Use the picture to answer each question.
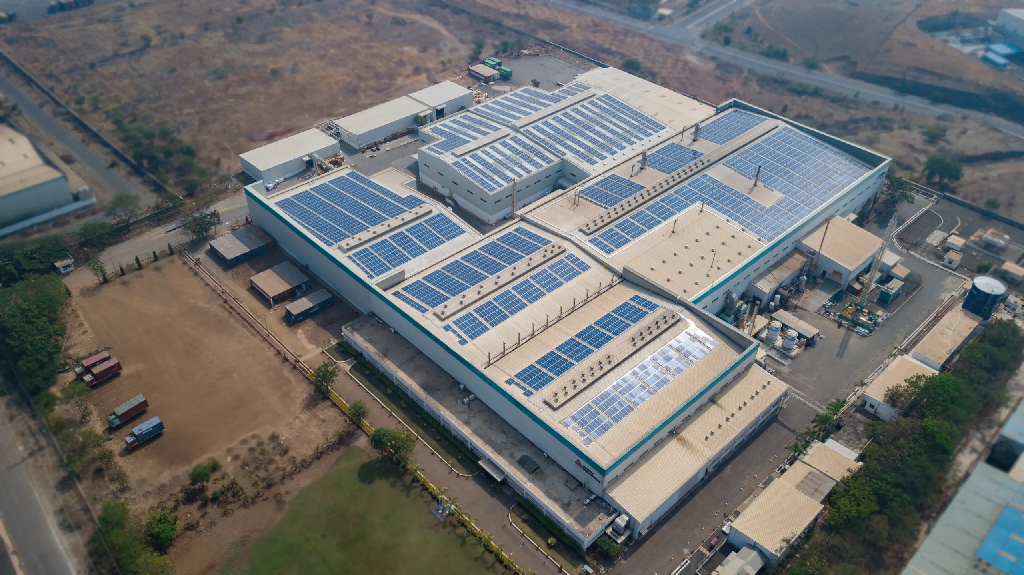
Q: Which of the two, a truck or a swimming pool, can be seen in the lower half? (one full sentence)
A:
What appears in the lower half is a truck.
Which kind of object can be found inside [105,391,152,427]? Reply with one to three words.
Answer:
truck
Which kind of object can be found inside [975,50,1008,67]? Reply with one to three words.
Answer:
building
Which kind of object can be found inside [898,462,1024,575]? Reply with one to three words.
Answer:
building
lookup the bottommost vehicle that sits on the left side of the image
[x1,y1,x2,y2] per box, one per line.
[123,415,166,450]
